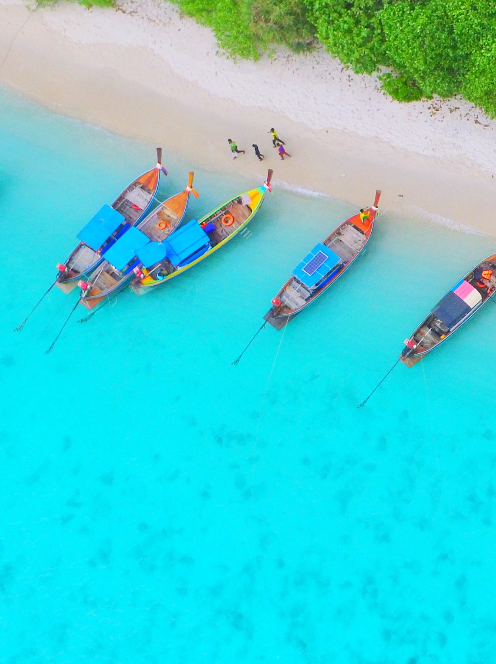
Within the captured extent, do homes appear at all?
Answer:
No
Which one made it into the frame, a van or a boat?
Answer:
boat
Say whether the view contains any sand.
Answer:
Yes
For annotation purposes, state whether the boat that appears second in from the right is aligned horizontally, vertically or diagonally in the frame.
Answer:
diagonally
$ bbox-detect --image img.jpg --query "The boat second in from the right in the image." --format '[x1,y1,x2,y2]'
[230,190,384,367]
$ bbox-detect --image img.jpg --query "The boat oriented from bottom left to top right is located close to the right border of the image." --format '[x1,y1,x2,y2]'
[357,253,496,411]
